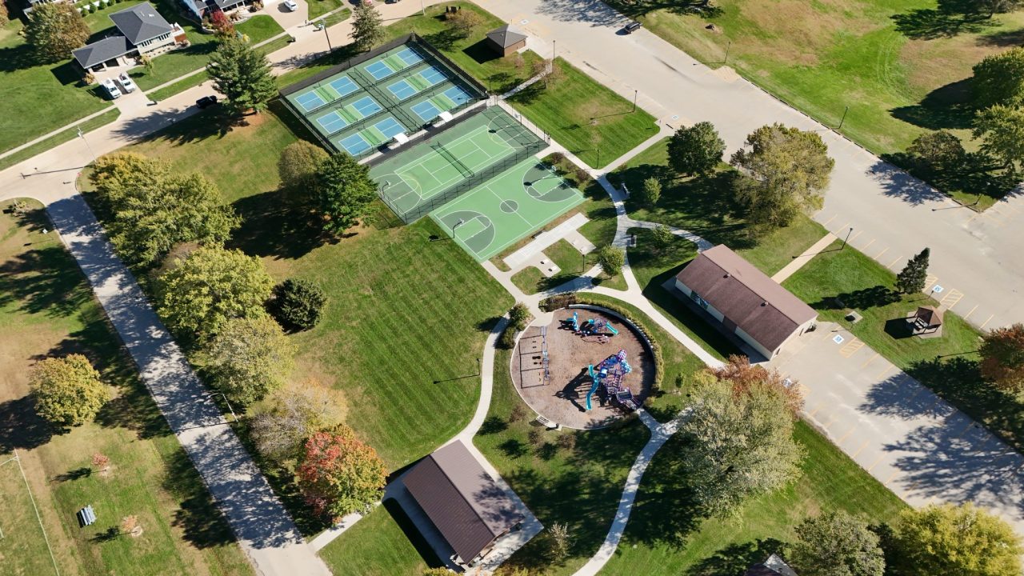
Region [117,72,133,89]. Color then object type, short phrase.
white vehicle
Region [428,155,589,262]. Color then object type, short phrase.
green basketball court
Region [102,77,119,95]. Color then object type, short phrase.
white car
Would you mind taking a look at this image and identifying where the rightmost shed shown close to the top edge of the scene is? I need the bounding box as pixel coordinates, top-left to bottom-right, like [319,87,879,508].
[486,24,527,57]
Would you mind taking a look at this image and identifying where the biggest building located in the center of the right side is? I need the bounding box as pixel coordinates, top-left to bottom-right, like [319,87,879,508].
[677,244,818,356]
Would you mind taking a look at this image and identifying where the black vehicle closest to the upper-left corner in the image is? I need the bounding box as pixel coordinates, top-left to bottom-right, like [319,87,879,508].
[195,95,217,108]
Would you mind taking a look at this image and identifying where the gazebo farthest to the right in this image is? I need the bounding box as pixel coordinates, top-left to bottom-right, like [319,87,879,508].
[910,309,942,338]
